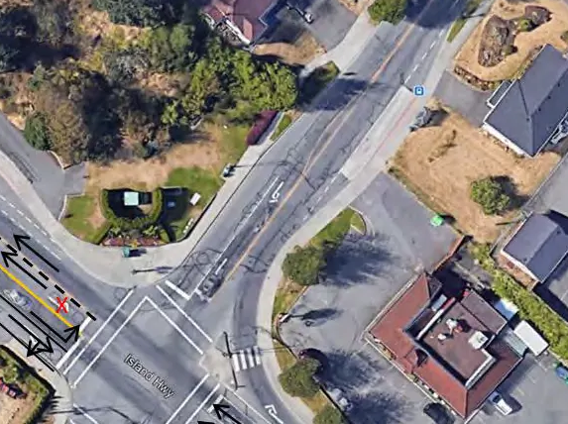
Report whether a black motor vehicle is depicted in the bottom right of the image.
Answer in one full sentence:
Yes, the scene does show a black motor vehicle in the bottom right of the image.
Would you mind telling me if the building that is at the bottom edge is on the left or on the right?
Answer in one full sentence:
You can find the building that is at the bottom edge on the right side of the picture.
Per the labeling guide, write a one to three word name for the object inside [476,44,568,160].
house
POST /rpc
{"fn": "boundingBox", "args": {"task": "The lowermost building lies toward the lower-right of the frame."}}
[369,273,527,418]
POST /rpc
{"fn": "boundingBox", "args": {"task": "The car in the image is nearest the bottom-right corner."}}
[485,390,517,419]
